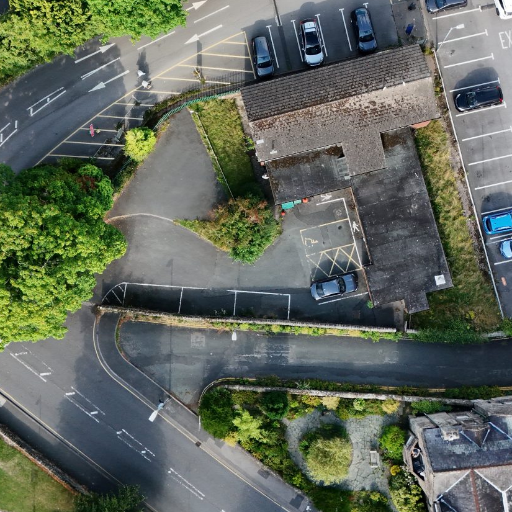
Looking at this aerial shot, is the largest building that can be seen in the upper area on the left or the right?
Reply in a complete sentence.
You can find the largest building that can be seen in the upper area on the right side of the picture.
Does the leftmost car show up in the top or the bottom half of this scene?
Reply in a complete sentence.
It is in the top half that the leftmost car appears.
